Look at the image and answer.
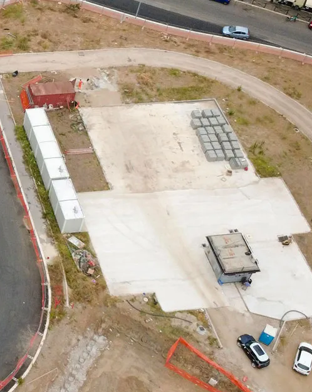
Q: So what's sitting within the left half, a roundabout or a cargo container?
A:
cargo container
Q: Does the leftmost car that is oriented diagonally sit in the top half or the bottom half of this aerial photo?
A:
bottom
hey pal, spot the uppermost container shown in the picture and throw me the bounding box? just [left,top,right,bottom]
[25,81,76,107]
